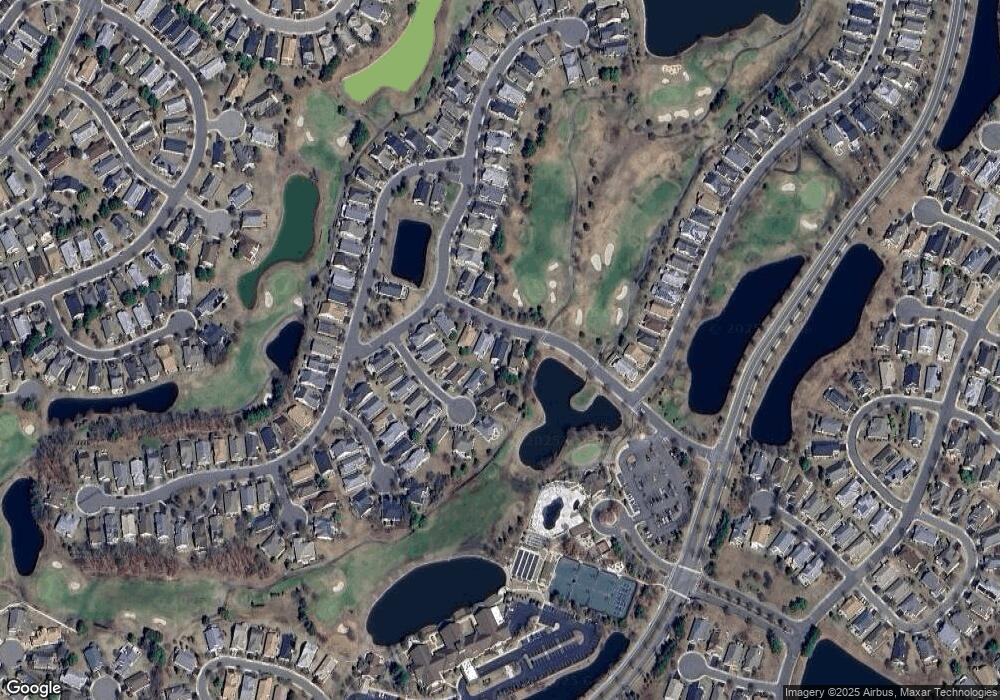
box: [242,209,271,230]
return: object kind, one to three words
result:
house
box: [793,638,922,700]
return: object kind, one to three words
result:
pond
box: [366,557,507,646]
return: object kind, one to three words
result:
pond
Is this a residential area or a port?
residential area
